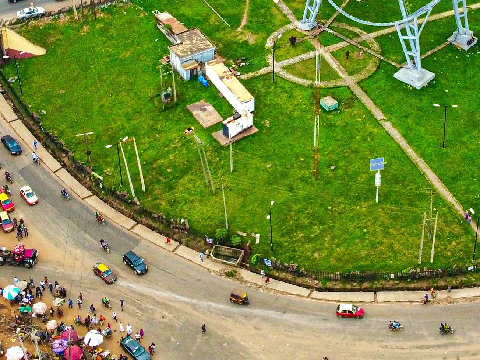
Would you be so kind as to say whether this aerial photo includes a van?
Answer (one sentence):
Yes, a van is visible in the scene.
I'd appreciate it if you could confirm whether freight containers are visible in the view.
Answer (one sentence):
Yes, a freight container appears in the view.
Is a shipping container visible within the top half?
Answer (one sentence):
Yes, a shipping container appears within the top half.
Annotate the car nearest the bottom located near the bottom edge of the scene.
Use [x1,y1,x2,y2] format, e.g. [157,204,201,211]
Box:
[121,333,149,360]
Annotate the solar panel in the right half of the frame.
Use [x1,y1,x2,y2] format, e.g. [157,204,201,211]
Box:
[369,155,388,171]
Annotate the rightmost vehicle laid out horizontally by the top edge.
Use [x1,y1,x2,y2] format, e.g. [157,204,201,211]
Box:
[17,5,44,19]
